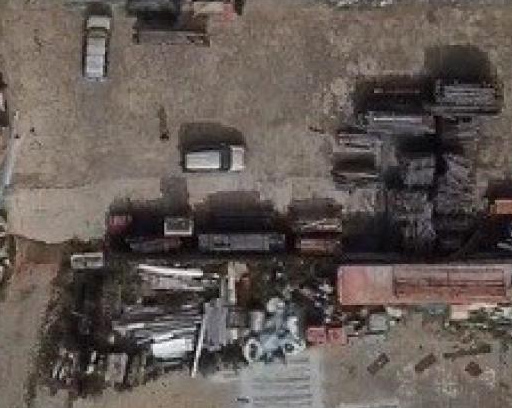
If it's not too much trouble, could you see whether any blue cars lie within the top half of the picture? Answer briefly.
No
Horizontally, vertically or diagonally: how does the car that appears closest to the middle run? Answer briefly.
horizontally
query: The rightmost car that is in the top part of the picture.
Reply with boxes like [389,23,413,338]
[183,146,248,174]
